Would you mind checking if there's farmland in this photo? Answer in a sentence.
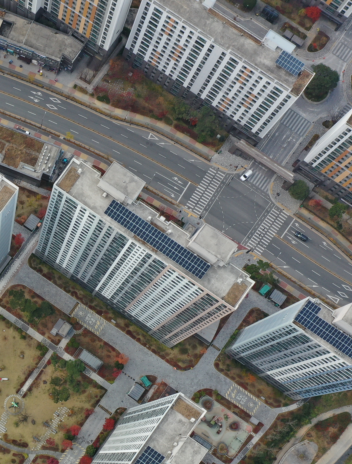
No, farmland can't be seen anywhere here.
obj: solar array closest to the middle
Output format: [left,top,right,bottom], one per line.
[104,199,209,279]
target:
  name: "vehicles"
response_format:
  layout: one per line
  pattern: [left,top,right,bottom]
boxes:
[239,169,252,182]
[294,231,308,242]
[16,125,32,135]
